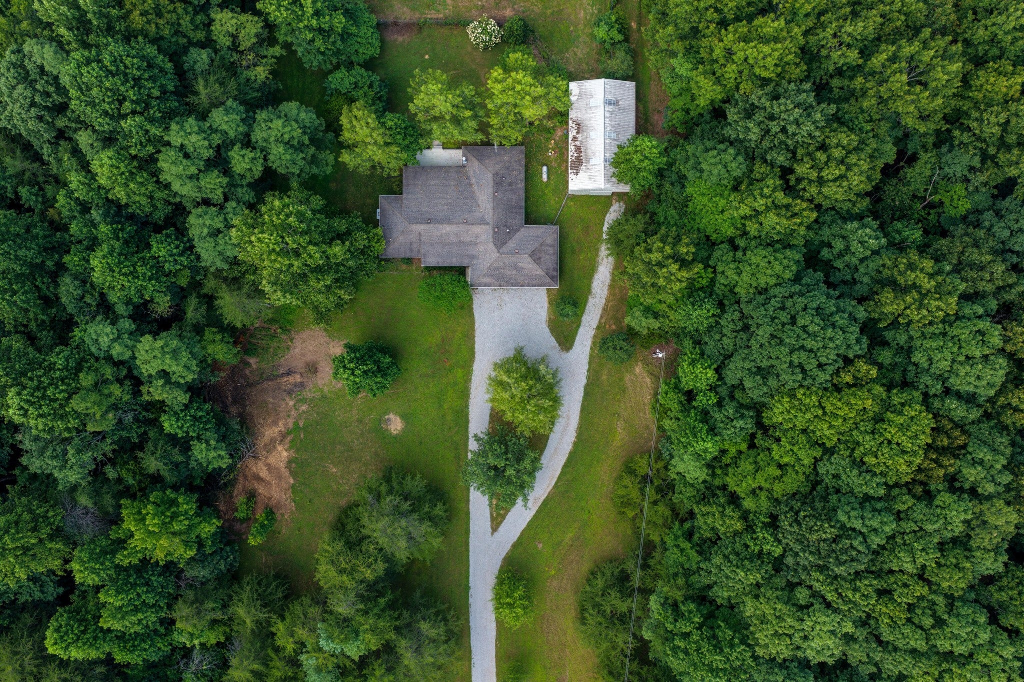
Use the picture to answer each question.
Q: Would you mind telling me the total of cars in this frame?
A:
none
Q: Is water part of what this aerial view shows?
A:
No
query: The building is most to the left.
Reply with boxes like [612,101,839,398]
[379,145,560,289]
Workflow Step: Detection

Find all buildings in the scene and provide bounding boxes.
[568,78,636,197]
[379,145,560,289]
